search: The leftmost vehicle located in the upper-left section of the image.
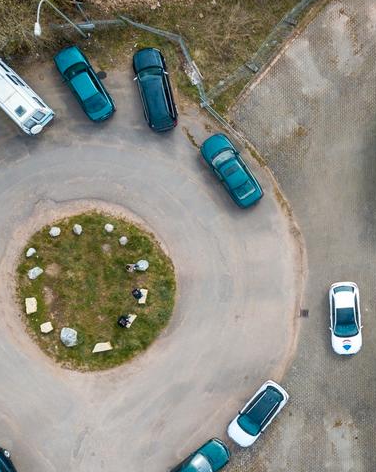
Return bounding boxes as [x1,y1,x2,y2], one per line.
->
[0,60,56,137]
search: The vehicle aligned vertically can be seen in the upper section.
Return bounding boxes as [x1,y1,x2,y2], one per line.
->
[132,49,179,132]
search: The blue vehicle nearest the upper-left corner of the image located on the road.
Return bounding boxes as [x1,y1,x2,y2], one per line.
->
[58,49,116,121]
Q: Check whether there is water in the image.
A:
No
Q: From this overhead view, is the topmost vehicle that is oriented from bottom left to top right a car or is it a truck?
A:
car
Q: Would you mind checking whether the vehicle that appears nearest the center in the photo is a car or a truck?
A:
car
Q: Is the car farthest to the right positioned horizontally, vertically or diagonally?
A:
vertically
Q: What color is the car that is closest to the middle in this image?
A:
blue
